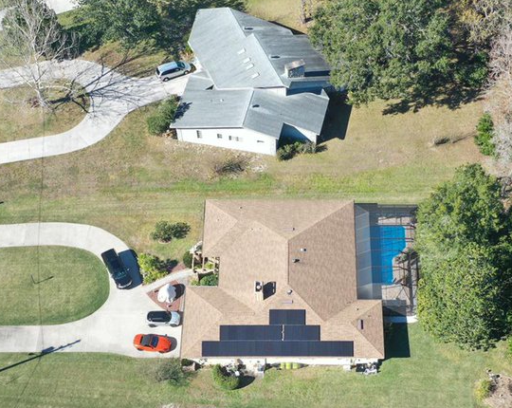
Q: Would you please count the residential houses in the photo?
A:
2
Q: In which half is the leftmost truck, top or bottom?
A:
bottom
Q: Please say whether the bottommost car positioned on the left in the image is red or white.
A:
red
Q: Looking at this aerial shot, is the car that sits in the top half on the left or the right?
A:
left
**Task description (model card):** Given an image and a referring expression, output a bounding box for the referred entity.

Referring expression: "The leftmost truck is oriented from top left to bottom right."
[101,248,133,286]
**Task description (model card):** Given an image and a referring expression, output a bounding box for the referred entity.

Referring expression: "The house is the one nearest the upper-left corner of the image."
[170,7,333,150]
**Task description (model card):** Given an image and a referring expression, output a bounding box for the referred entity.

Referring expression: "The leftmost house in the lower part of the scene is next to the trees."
[180,199,385,365]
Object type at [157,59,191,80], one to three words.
car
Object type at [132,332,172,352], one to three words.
car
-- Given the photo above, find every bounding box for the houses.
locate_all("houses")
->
[180,199,385,365]
[170,7,333,150]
